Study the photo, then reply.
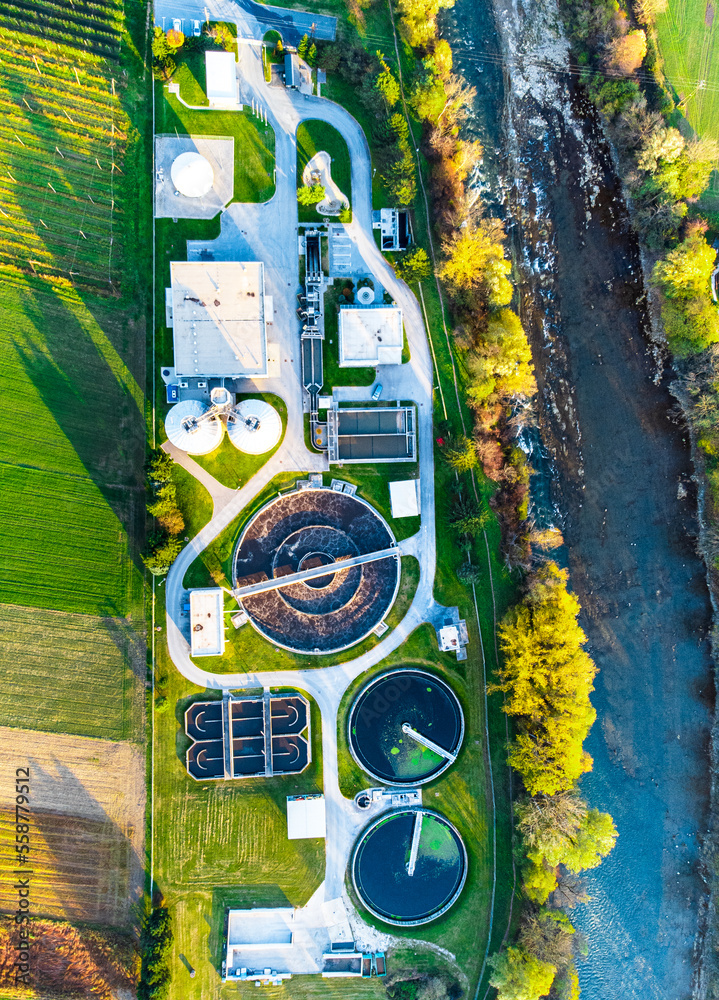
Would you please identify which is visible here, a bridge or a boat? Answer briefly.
bridge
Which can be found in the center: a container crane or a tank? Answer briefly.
tank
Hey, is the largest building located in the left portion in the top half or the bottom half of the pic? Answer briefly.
top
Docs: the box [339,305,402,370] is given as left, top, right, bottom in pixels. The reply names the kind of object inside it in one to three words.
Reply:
house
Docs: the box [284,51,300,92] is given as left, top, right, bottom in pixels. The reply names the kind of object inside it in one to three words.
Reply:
building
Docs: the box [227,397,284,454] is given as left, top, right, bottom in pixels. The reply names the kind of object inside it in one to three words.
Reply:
silo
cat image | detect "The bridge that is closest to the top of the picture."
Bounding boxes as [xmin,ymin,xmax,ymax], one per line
[233,545,401,599]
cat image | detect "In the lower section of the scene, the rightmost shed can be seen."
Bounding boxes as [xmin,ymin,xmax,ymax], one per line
[439,624,459,651]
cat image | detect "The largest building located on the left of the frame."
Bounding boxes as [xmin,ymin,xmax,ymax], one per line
[166,262,273,381]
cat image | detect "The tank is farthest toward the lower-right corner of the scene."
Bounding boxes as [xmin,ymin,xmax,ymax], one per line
[353,810,468,926]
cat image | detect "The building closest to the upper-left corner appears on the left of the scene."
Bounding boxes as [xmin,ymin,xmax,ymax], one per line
[205,52,238,104]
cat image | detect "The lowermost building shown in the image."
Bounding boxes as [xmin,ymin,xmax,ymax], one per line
[227,906,295,979]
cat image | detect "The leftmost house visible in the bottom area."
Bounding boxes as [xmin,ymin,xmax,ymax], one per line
[190,589,231,656]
